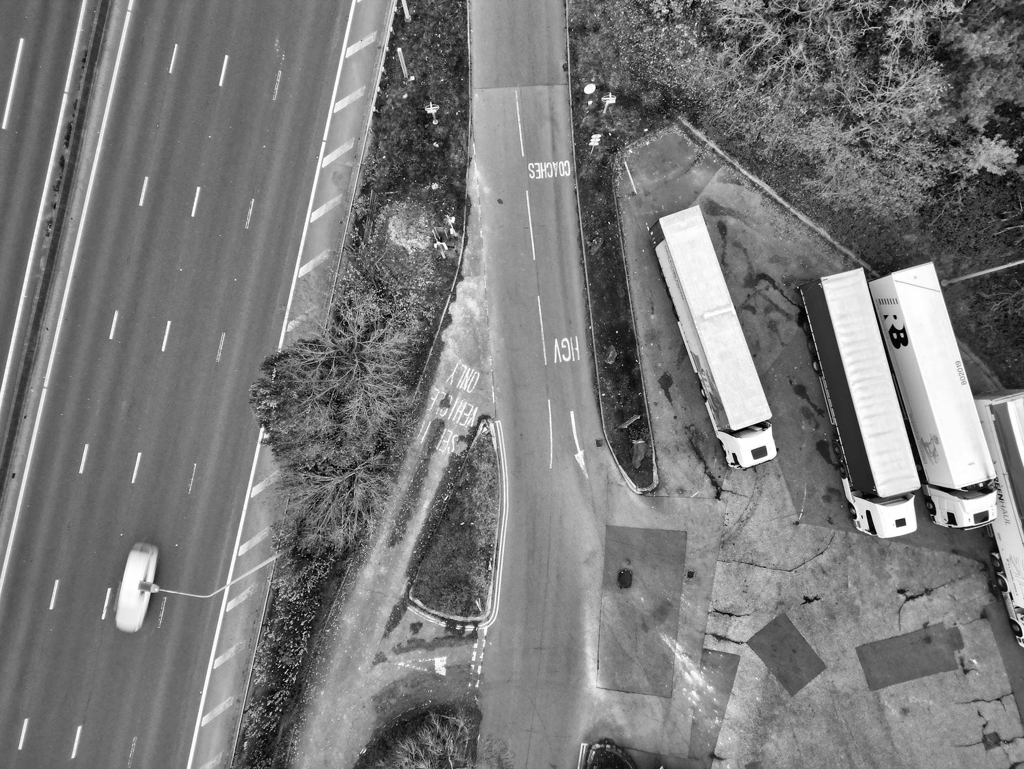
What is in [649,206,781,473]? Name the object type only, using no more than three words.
truck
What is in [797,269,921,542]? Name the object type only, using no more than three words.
truck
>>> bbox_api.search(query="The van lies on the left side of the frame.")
[111,542,166,634]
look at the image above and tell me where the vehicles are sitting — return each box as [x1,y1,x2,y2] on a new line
[111,542,166,634]
[867,263,996,532]
[974,393,1024,652]
[649,206,781,473]
[797,269,921,542]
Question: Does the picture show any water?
No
